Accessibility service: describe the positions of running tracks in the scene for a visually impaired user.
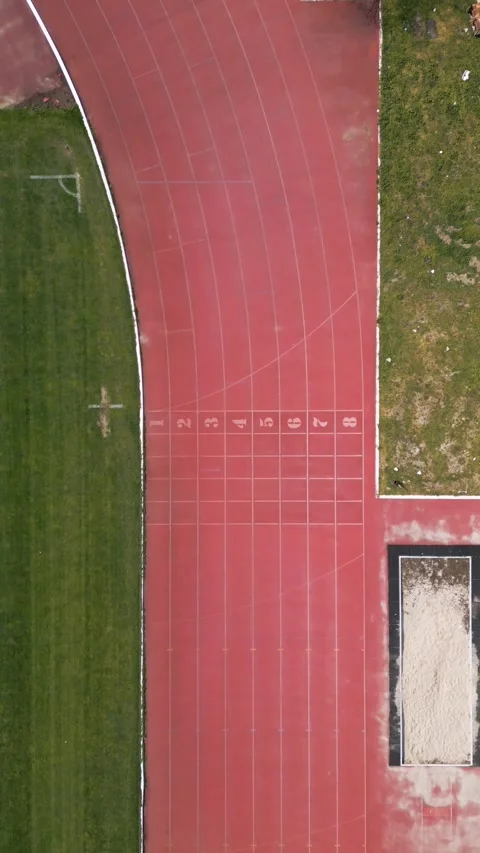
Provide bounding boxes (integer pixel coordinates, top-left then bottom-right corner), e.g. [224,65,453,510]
[31,0,380,853]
